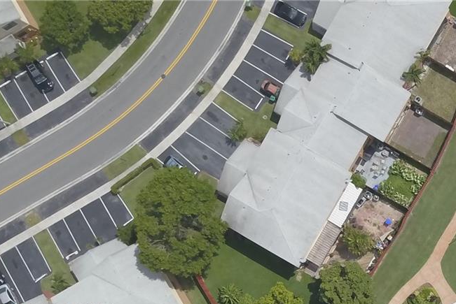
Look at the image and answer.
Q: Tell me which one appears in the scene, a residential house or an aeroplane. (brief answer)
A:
residential house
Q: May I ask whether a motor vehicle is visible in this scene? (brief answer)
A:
Yes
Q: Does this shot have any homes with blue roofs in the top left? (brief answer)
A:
No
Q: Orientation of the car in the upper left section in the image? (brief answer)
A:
diagonally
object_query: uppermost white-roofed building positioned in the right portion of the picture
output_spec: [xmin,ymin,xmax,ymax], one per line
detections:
[313,0,456,85]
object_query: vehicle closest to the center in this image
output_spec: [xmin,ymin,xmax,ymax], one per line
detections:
[163,152,195,177]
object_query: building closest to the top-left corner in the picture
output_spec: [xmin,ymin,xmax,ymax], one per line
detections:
[0,0,33,36]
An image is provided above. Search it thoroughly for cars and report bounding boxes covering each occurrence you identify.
[163,152,195,177]
[270,0,306,26]
[24,60,55,94]
[0,280,20,304]
[257,79,280,100]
